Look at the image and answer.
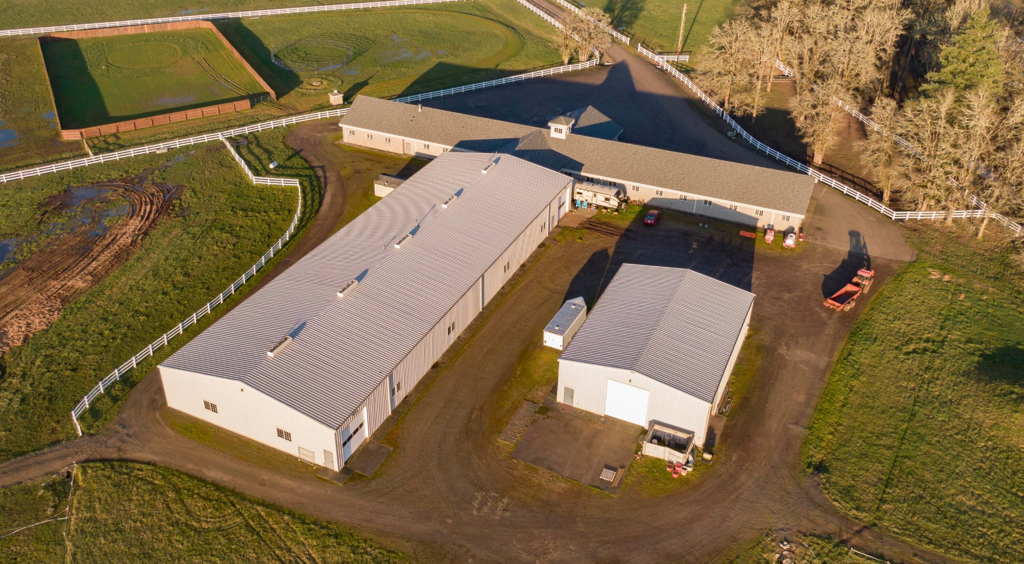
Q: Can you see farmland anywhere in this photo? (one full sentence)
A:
Yes, farmland can be seen from above here.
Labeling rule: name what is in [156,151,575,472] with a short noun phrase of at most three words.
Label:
barn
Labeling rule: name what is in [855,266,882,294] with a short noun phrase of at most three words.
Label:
work vehicle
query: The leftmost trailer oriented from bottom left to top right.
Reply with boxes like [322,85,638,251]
[545,295,599,345]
